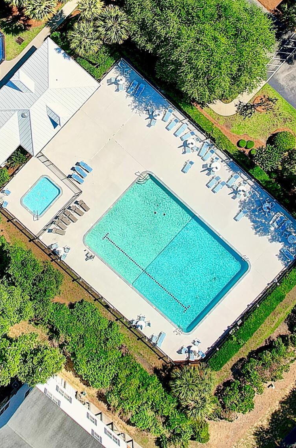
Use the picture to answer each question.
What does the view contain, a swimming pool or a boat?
swimming pool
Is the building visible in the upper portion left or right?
left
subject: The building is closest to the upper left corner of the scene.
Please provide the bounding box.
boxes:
[0,37,100,166]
